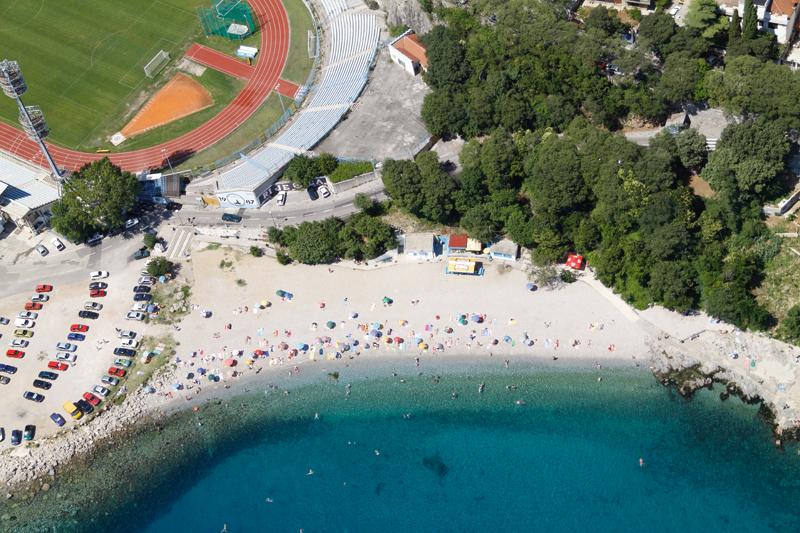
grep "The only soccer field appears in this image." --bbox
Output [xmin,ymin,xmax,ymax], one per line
[0,0,262,152]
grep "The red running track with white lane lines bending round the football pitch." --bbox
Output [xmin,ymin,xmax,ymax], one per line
[0,0,291,175]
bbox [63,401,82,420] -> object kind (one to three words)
vehicle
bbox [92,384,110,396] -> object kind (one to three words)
vehicle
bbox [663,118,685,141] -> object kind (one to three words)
house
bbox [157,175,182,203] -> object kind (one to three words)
shed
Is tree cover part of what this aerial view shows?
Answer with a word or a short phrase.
Yes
